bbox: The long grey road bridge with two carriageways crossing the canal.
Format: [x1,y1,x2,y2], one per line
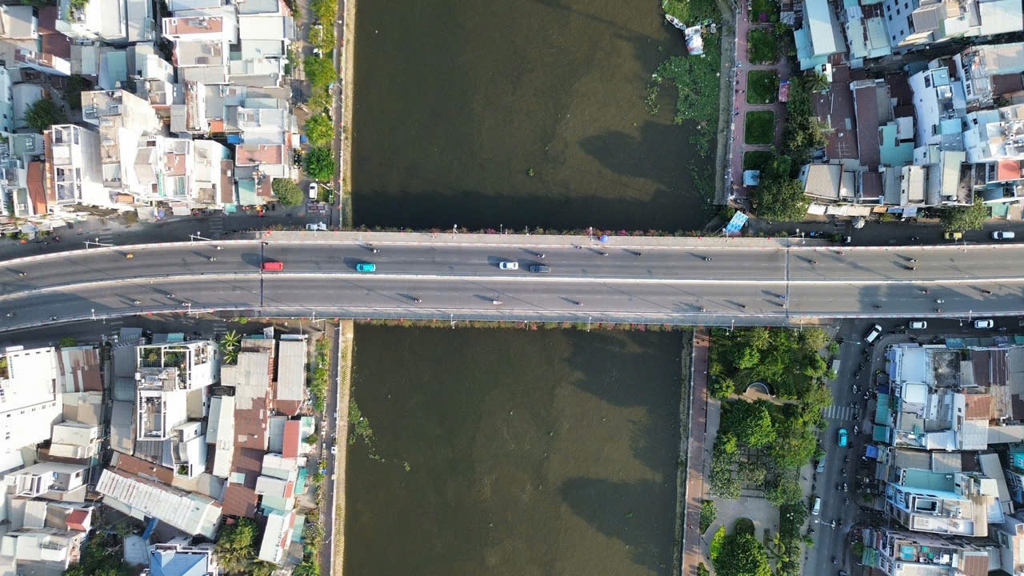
[0,228,1024,332]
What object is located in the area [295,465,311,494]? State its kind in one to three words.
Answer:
shed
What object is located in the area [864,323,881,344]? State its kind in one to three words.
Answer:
vehicle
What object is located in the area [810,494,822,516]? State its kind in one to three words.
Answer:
vehicle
